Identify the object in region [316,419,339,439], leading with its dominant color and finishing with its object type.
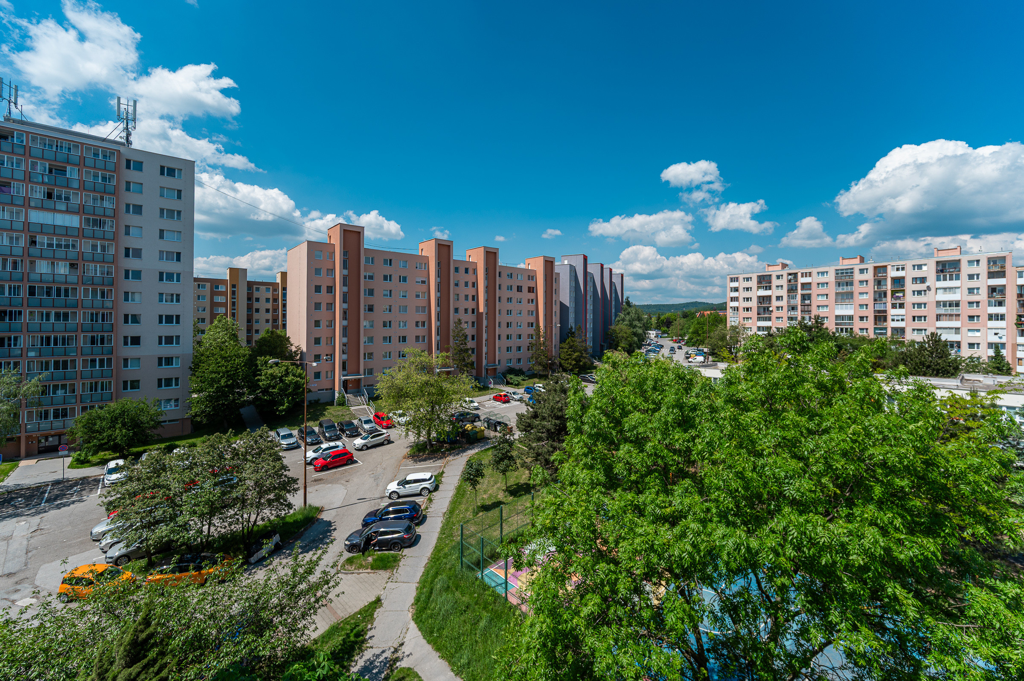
black car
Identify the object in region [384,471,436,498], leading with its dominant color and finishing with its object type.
white car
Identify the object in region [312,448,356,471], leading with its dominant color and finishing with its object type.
red car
